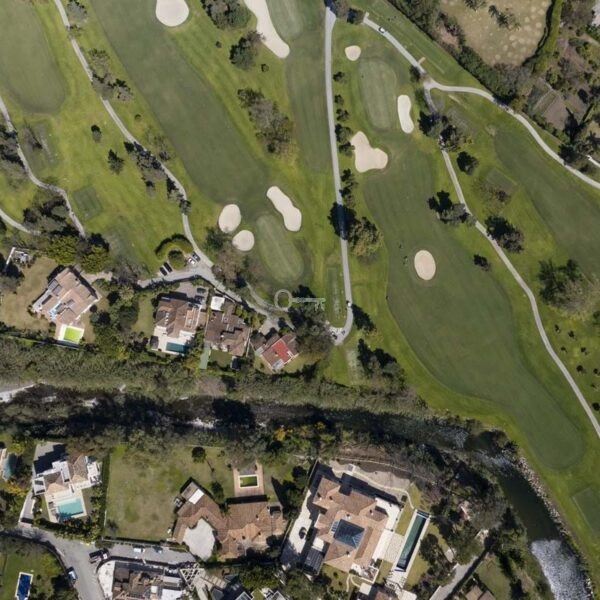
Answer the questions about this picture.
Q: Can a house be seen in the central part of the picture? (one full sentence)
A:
Yes, a house can be seen in the central part of the picture.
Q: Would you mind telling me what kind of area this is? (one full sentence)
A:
This looks like a golf course.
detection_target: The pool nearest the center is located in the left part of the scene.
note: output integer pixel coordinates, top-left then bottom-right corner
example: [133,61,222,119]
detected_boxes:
[165,342,187,354]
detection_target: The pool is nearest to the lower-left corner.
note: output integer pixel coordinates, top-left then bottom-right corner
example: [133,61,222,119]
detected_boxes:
[13,573,33,600]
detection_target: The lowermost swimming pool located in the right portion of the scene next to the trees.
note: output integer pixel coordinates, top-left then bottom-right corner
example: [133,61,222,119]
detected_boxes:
[393,510,431,573]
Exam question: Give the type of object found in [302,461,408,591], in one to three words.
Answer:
house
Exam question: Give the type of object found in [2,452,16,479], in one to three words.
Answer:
swimming pool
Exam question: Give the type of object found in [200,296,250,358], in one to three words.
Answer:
house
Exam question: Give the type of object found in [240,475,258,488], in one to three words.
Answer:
swimming pool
